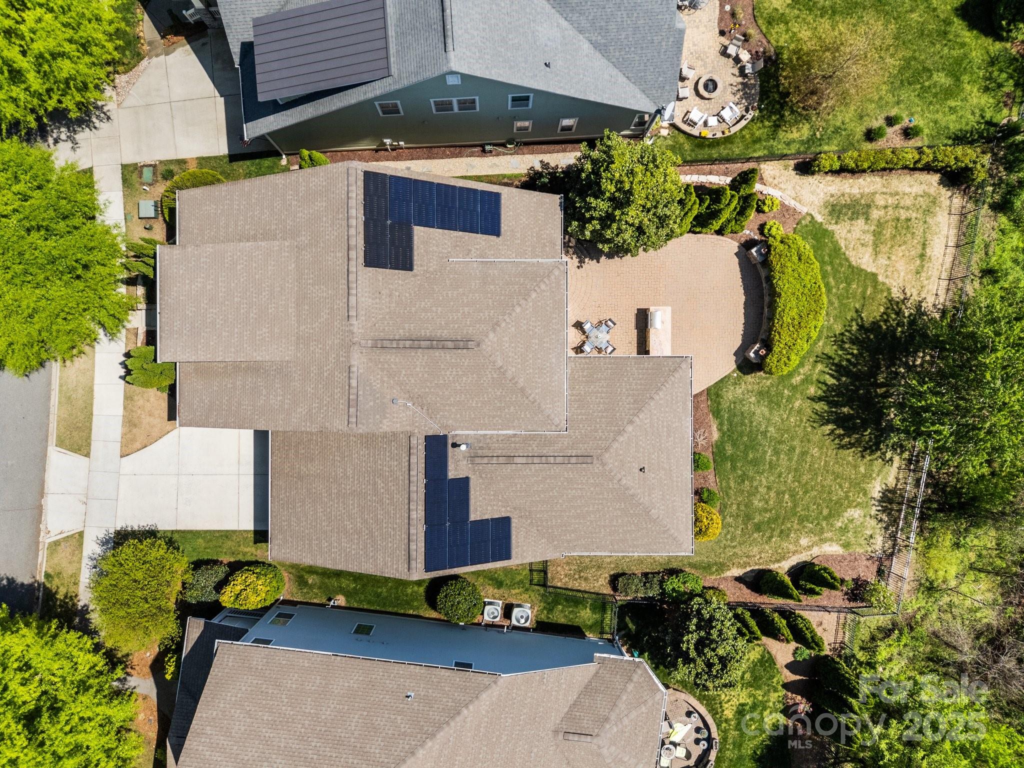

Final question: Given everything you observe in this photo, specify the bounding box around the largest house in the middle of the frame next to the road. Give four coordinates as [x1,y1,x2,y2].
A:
[154,160,696,580]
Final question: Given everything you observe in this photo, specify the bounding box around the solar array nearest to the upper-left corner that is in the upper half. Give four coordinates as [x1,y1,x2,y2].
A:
[362,171,503,271]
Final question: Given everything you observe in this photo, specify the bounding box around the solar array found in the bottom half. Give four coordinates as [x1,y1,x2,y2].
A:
[391,398,514,572]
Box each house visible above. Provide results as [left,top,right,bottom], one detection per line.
[154,160,696,580]
[182,0,687,155]
[164,596,670,768]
